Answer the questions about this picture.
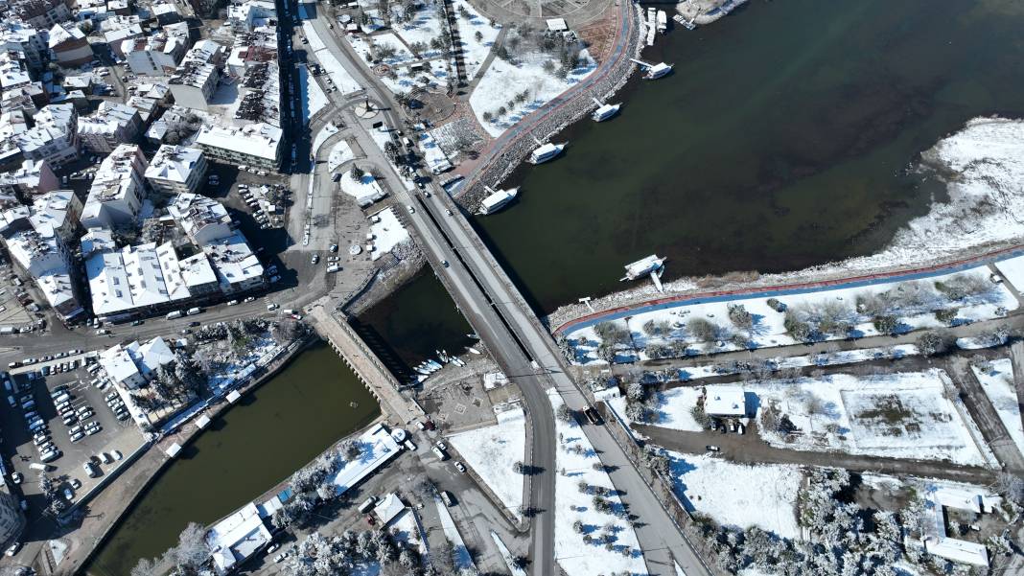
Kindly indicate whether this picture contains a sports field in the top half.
No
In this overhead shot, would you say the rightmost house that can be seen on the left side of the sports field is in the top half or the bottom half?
bottom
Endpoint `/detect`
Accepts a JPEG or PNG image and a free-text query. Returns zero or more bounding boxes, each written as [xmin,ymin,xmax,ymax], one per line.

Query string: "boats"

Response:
[453,355,467,365]
[411,375,427,385]
[423,361,437,372]
[475,184,520,214]
[465,347,479,353]
[591,99,621,119]
[528,139,567,163]
[643,59,674,78]
[413,367,429,376]
[657,8,669,32]
[620,248,668,280]
[418,363,432,373]
[442,349,449,362]
[450,357,462,366]
[428,359,443,370]
[437,350,445,363]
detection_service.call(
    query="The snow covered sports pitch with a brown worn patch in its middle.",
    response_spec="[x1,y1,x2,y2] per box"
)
[842,386,969,448]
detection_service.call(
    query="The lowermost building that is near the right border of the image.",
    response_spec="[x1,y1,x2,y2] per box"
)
[921,538,989,571]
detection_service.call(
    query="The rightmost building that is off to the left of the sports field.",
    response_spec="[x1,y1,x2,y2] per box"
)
[704,384,746,417]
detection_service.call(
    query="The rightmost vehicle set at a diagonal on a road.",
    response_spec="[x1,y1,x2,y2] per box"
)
[583,402,600,422]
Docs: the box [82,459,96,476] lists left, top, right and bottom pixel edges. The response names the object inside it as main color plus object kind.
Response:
white vehicle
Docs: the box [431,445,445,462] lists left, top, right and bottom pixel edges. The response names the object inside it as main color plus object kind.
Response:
white vehicle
